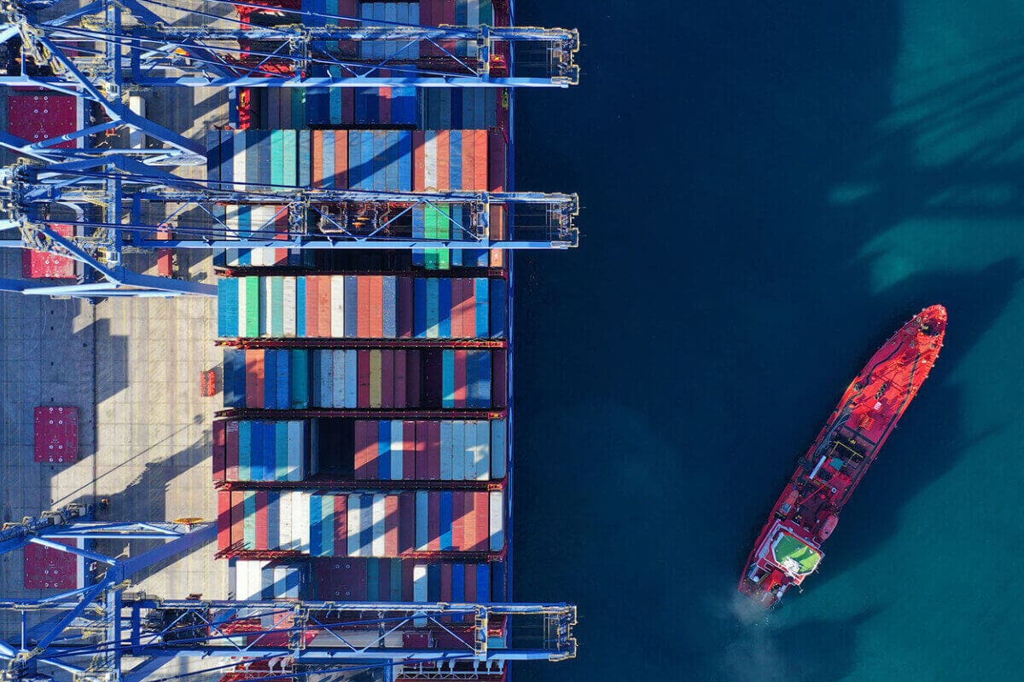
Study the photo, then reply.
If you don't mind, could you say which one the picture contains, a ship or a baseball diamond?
ship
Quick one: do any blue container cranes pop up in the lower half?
Yes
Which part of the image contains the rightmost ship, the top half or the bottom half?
bottom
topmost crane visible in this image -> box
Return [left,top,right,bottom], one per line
[0,0,583,181]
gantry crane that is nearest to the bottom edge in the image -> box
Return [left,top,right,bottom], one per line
[0,501,586,682]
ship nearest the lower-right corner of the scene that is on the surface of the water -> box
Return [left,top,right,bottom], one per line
[739,306,943,606]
